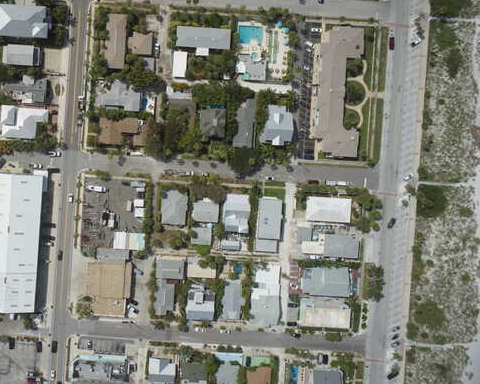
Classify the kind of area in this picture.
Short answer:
residential area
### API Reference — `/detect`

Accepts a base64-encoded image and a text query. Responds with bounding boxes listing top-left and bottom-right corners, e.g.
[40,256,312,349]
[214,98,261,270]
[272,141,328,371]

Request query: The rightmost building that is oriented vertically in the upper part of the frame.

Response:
[308,25,365,159]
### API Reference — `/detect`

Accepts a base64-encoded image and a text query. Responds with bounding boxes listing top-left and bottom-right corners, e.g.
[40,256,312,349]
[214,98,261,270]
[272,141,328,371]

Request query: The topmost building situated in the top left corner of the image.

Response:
[0,4,47,40]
